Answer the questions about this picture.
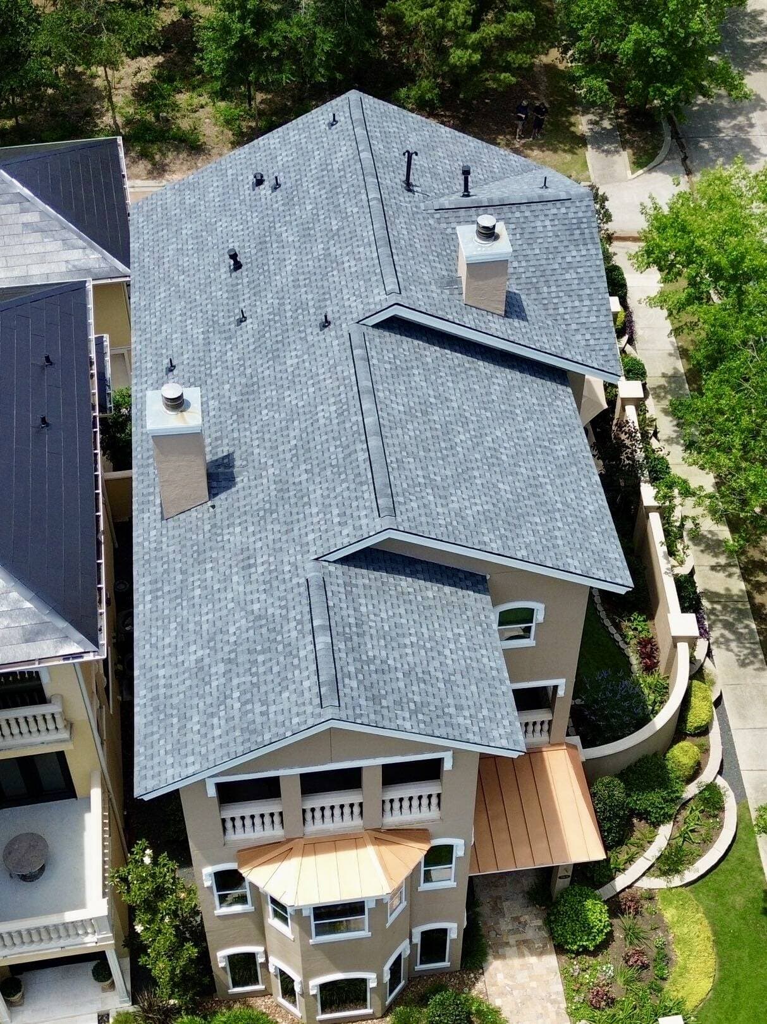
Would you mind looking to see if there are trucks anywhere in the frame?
No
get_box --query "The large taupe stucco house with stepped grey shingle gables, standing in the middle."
[131,88,636,1022]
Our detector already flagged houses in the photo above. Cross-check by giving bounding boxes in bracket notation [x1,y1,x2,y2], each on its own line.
[0,280,136,1024]
[131,88,636,1022]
